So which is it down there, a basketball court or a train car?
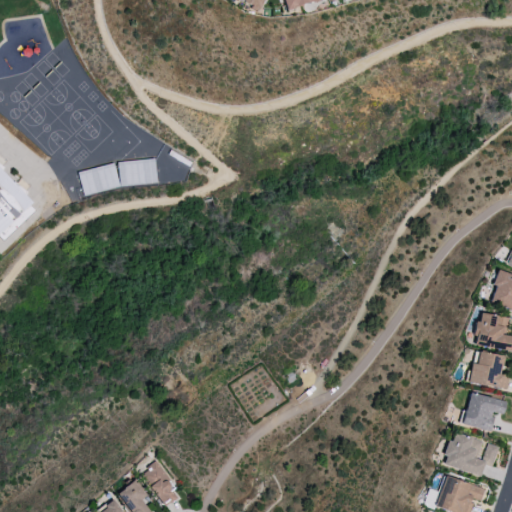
basketball court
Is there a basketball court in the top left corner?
Yes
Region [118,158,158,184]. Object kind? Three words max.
building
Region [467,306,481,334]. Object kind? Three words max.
swimming pool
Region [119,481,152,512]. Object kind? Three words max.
house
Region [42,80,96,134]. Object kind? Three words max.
basketball court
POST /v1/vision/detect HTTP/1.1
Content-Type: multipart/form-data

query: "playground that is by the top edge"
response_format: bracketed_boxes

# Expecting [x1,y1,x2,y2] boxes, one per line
[0,14,56,79]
